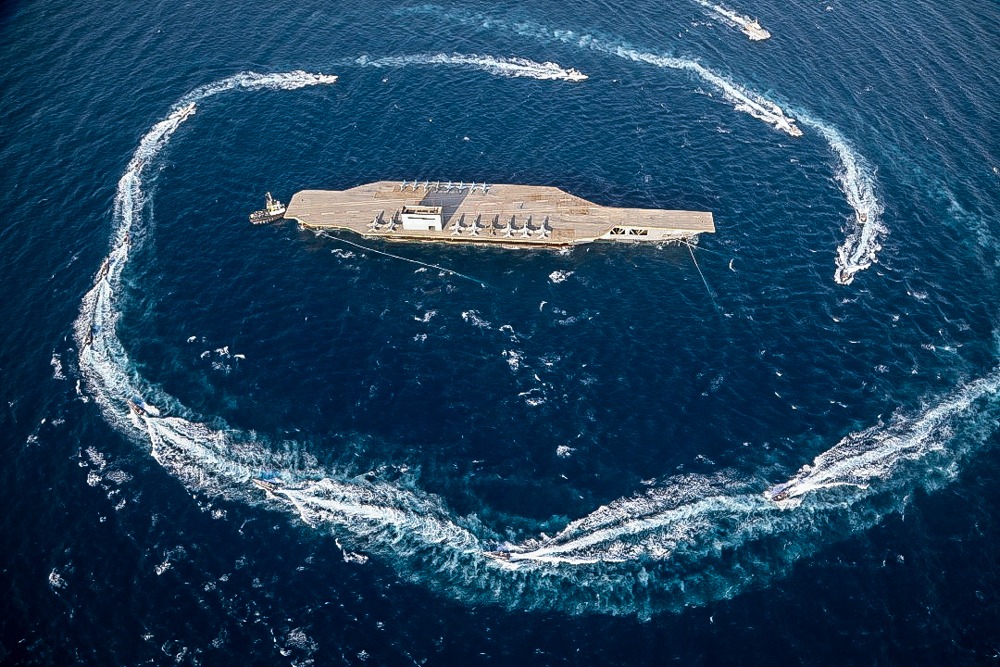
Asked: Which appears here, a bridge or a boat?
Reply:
boat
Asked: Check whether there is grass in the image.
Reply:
No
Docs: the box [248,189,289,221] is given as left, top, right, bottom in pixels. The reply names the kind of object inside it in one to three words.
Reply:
boat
